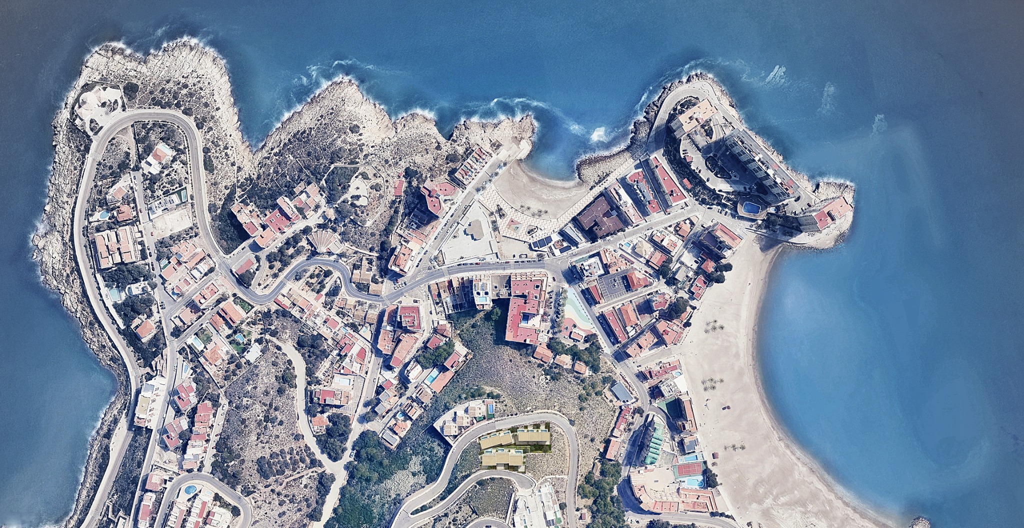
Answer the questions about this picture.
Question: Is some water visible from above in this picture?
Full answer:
Yes, the picture does contain water.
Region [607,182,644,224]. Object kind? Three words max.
building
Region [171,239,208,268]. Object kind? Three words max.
house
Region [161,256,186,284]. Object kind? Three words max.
house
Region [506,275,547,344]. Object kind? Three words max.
building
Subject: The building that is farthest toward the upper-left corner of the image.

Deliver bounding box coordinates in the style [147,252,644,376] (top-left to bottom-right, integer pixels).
[76,86,110,120]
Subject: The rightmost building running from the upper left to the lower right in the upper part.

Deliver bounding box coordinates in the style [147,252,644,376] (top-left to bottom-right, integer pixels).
[730,129,801,200]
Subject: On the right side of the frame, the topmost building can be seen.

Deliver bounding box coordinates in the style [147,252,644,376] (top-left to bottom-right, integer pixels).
[670,98,718,138]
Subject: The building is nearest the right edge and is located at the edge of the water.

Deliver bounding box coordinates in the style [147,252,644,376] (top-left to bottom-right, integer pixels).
[800,197,853,232]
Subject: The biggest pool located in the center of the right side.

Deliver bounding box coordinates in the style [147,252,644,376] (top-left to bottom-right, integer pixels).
[742,201,761,215]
